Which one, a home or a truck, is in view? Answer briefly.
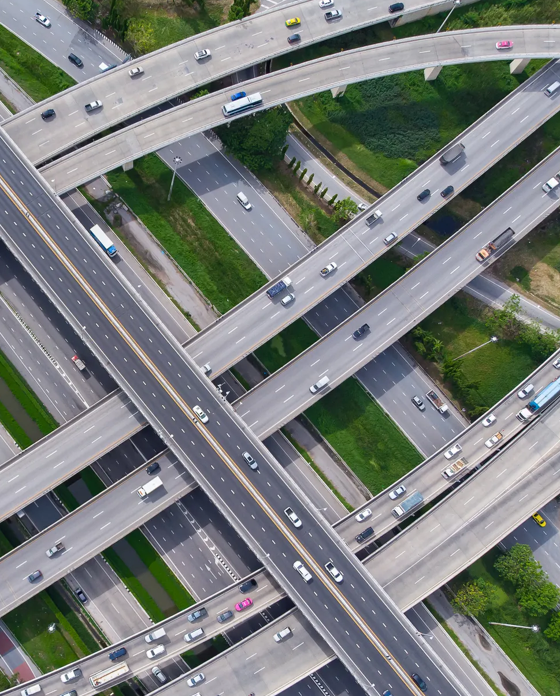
truck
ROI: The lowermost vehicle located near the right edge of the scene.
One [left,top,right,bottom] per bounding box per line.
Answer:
[532,513,546,528]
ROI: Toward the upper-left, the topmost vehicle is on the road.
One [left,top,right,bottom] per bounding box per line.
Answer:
[33,12,51,27]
